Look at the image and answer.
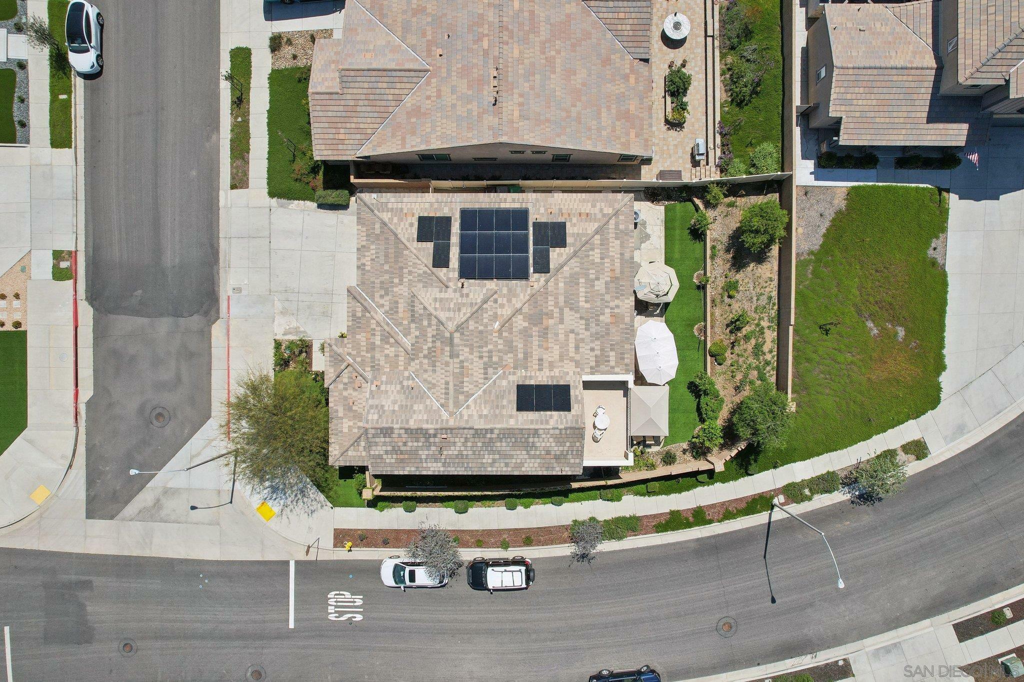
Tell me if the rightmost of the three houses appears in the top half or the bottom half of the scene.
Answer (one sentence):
It is in the top half that the rightmost of the three houses appears.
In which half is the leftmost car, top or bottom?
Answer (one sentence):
It is in the top half that the leftmost car appears.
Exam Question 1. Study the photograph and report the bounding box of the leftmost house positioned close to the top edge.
[308,0,658,166]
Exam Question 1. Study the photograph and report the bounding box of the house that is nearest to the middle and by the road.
[323,191,634,475]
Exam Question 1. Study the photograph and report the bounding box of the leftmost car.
[62,0,103,71]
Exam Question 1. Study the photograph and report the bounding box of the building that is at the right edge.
[800,0,1024,157]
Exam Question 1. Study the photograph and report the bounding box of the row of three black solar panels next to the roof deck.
[516,384,572,411]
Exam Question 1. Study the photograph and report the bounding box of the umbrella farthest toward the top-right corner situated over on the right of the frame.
[635,261,680,303]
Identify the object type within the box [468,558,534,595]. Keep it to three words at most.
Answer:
car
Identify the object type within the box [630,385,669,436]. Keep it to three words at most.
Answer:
gazebo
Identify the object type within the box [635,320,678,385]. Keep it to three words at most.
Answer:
umbrella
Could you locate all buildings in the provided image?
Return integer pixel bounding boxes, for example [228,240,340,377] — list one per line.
[800,0,1024,157]
[323,191,634,475]
[308,0,658,166]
